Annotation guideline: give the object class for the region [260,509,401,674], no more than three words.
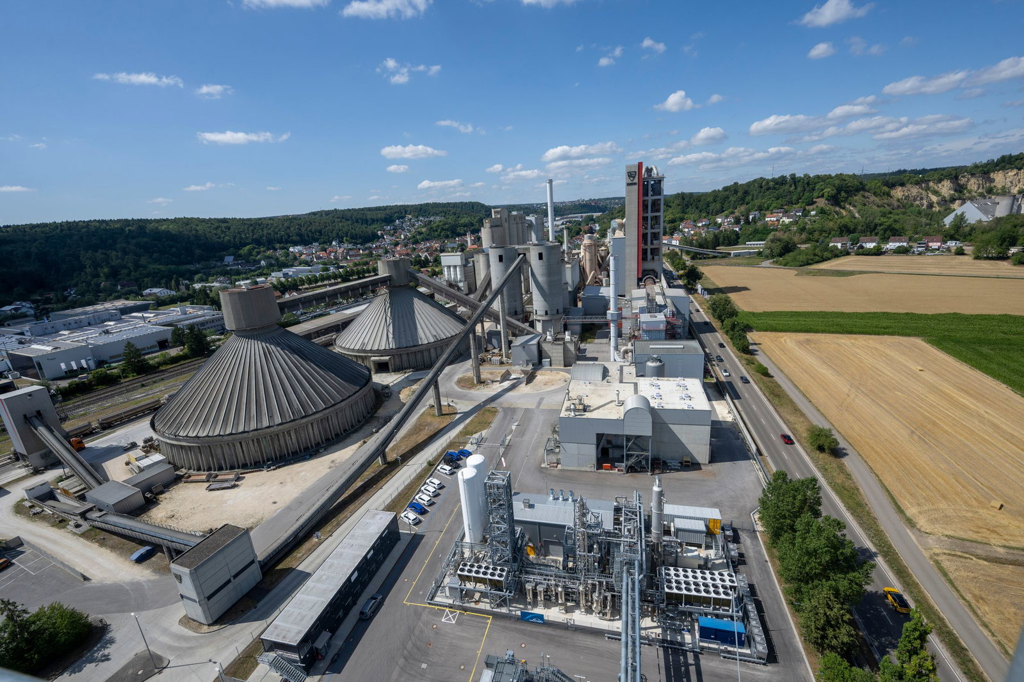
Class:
building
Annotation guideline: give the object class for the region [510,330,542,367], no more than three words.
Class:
house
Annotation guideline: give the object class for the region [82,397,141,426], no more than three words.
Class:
rail car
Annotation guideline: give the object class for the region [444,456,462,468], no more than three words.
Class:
vehicle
